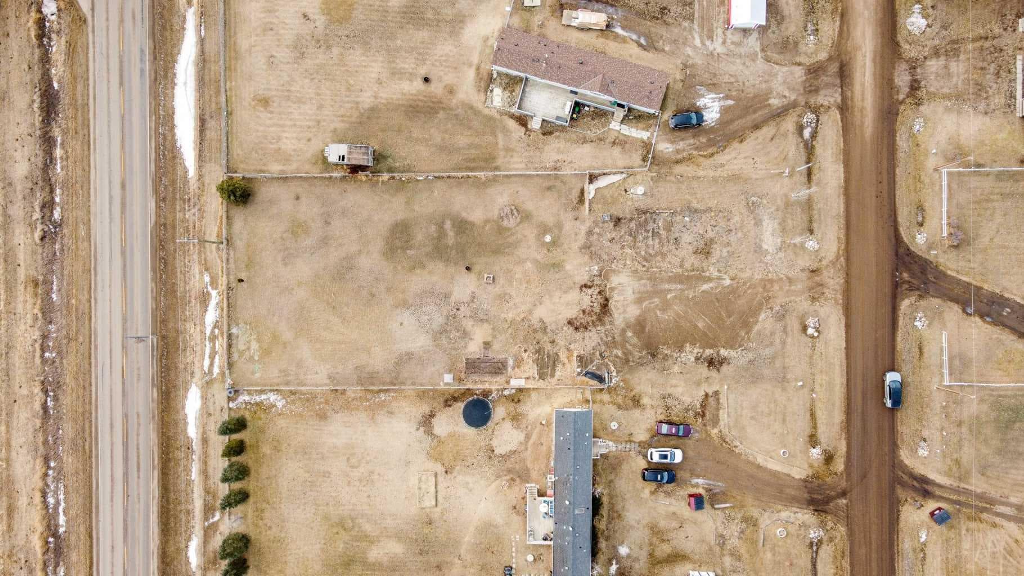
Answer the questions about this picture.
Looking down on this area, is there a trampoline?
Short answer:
Yes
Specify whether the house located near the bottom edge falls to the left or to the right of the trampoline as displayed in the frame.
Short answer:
to the right of it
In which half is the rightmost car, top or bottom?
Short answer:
bottom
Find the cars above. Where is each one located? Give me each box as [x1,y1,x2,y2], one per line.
[647,447,682,464]
[668,110,704,129]
[882,371,902,408]
[641,467,675,485]
[655,421,692,439]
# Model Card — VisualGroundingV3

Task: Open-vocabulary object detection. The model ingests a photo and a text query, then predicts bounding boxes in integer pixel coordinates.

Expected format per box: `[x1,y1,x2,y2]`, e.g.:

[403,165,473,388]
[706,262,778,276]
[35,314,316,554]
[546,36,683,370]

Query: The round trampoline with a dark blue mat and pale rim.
[462,396,493,428]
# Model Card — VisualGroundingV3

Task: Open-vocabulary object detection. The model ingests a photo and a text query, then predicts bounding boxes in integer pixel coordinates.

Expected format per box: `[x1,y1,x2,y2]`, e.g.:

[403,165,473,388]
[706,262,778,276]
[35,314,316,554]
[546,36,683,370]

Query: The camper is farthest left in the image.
[324,144,376,167]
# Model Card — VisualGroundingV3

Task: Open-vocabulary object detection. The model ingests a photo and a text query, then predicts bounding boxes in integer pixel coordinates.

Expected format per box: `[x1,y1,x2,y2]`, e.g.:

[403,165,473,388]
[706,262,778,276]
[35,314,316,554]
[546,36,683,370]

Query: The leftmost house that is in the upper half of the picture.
[492,28,669,117]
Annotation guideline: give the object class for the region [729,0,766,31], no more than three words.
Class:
shed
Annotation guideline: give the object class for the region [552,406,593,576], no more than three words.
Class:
house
